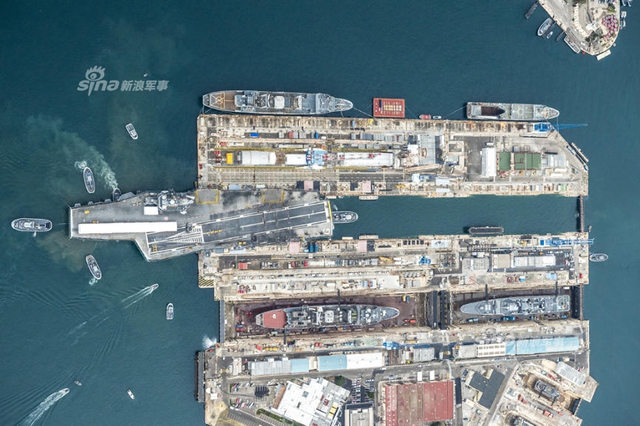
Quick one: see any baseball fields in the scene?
No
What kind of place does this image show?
port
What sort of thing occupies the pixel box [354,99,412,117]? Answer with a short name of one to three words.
ship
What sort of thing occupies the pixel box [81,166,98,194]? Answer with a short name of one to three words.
boat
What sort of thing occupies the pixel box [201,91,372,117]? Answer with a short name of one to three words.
ship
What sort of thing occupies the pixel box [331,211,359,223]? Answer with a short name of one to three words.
boat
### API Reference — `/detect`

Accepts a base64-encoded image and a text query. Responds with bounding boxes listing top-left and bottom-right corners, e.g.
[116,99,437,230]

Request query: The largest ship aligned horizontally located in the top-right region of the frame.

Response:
[446,102,559,129]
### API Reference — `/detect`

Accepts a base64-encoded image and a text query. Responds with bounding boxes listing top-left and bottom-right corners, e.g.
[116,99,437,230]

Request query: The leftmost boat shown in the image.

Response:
[11,218,52,233]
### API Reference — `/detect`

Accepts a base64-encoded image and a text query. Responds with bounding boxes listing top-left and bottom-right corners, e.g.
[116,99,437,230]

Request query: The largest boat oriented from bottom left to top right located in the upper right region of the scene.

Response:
[538,19,552,35]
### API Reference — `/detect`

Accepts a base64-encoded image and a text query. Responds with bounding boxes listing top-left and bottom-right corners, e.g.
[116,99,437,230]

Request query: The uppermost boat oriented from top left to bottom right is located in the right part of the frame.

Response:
[564,36,581,54]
